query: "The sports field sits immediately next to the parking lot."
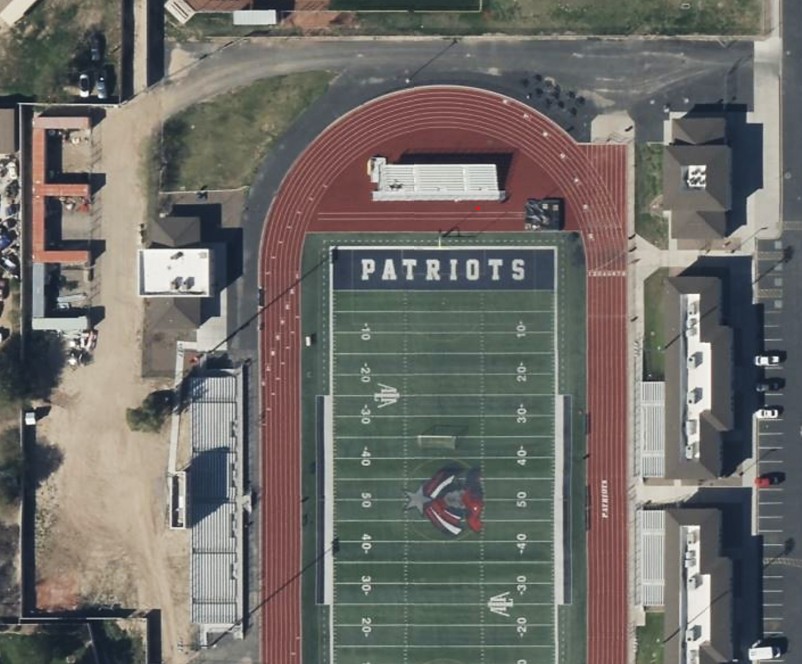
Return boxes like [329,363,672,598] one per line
[301,233,585,664]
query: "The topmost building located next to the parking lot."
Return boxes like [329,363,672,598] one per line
[663,117,733,239]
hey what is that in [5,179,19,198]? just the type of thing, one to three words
vehicle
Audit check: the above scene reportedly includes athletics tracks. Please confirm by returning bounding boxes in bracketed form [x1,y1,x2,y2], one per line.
[258,86,628,664]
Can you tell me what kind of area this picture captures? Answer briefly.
sports ground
